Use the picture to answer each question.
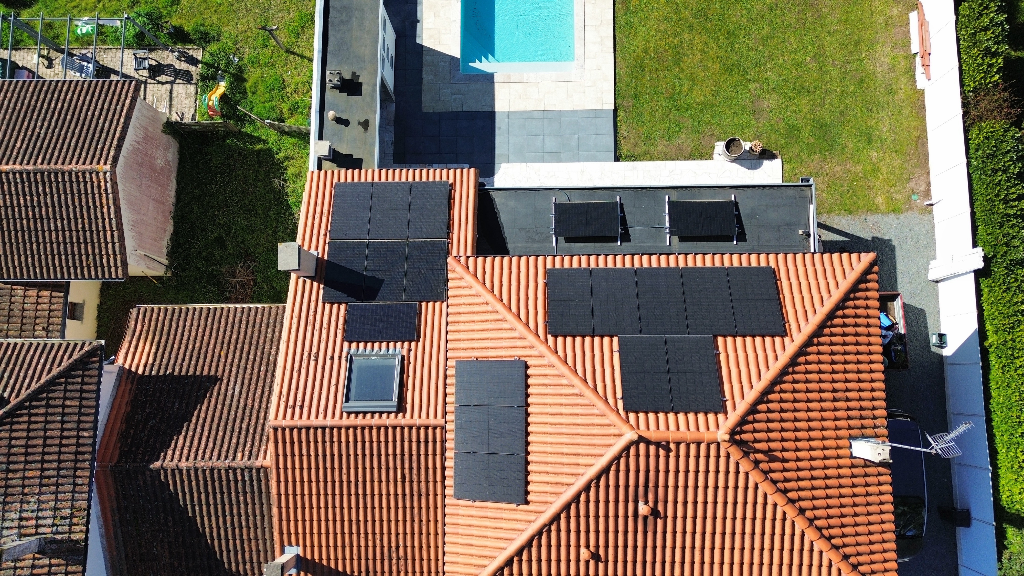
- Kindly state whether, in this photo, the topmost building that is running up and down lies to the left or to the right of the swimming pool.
on the left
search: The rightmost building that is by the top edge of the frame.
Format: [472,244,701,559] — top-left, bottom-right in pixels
[309,0,394,170]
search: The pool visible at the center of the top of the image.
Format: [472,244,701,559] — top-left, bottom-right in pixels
[459,0,575,73]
